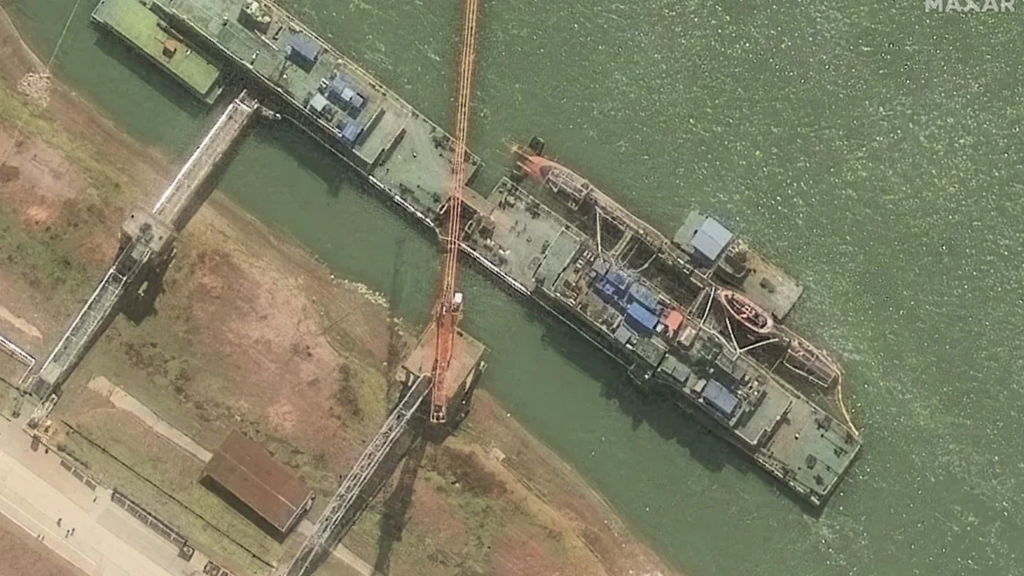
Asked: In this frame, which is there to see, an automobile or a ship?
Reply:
ship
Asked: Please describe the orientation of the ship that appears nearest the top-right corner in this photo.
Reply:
diagonally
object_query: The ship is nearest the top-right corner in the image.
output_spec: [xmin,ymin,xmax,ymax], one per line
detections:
[674,211,804,320]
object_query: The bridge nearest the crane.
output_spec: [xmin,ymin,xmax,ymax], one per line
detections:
[285,375,436,576]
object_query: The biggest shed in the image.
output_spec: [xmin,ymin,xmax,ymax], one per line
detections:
[204,430,312,530]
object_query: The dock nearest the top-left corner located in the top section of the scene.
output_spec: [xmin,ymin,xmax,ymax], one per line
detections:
[92,0,222,103]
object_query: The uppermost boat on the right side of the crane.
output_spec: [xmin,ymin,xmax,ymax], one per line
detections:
[530,138,544,155]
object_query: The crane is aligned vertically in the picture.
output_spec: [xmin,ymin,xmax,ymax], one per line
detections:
[430,0,477,422]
